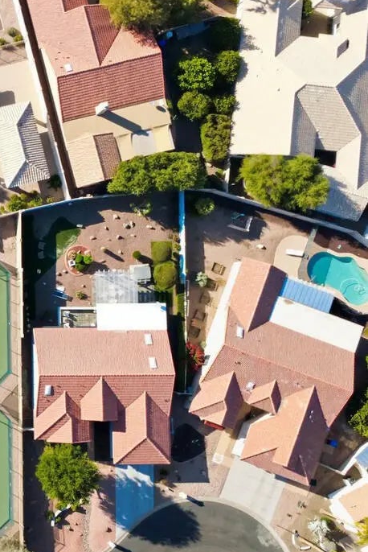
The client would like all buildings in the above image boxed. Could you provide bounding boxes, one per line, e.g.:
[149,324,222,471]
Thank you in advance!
[29,302,175,465]
[125,264,149,280]
[0,100,50,189]
[24,0,174,188]
[182,258,363,486]
[223,0,368,226]
[317,434,368,523]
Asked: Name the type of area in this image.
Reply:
residential area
